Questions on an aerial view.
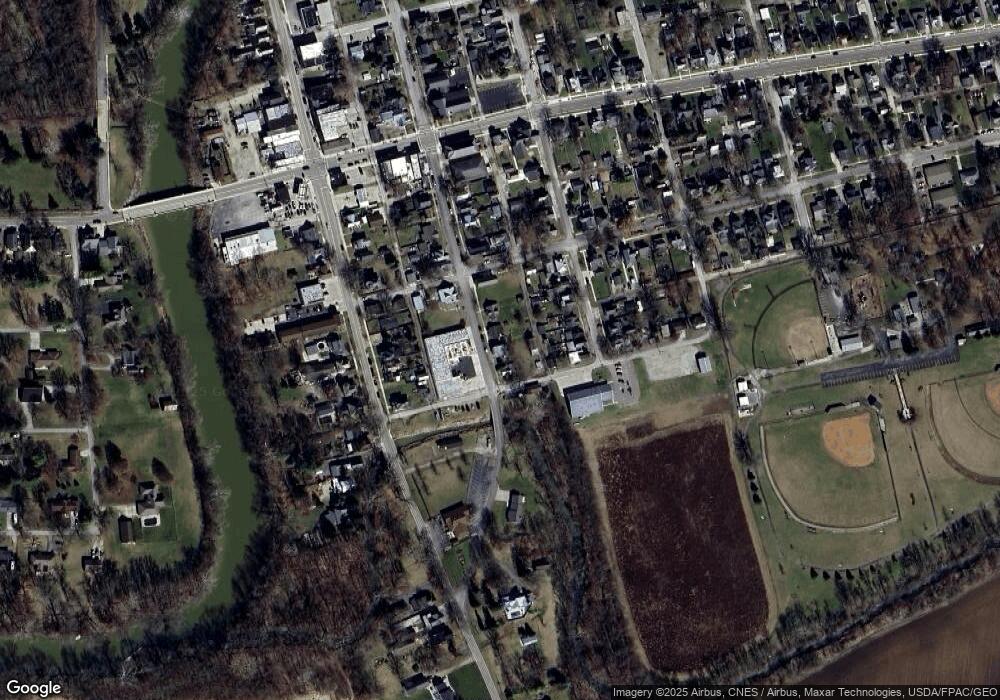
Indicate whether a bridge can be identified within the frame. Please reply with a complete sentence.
Yes, you can see a bridge in this photo.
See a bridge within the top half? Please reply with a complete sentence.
Yes, the scene does show a bridge within the top half.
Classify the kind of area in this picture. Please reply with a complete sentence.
This image shows a residential area.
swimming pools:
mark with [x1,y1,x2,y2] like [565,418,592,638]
[141,515,160,528]
[316,340,326,350]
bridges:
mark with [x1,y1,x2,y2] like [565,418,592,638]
[117,189,207,224]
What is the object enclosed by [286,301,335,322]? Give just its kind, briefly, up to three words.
building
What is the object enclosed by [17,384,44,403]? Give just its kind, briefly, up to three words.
house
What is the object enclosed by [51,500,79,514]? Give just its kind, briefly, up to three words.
house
